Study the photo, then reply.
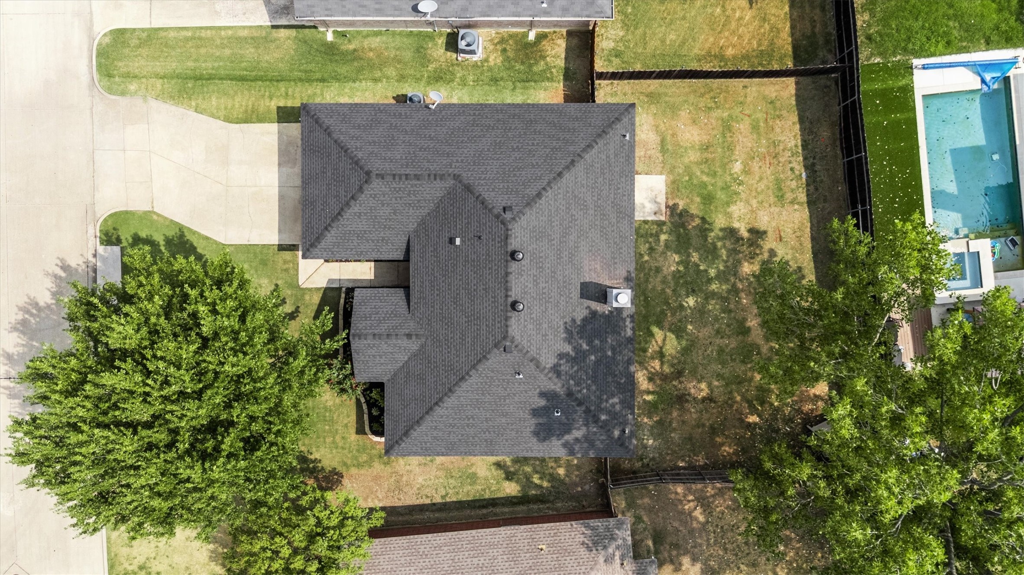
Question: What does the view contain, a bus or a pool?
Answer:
pool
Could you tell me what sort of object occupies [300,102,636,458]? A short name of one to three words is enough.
house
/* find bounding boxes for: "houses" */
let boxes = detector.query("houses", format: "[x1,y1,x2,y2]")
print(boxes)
[294,0,615,33]
[340,511,657,575]
[300,102,636,458]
